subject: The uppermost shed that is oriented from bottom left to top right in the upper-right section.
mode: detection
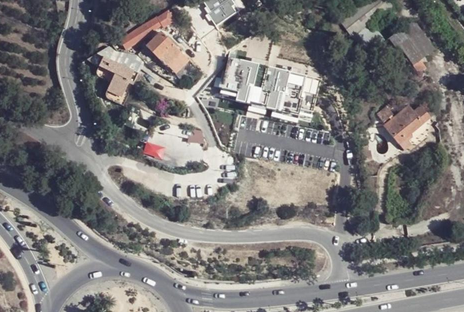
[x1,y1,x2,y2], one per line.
[344,0,382,30]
